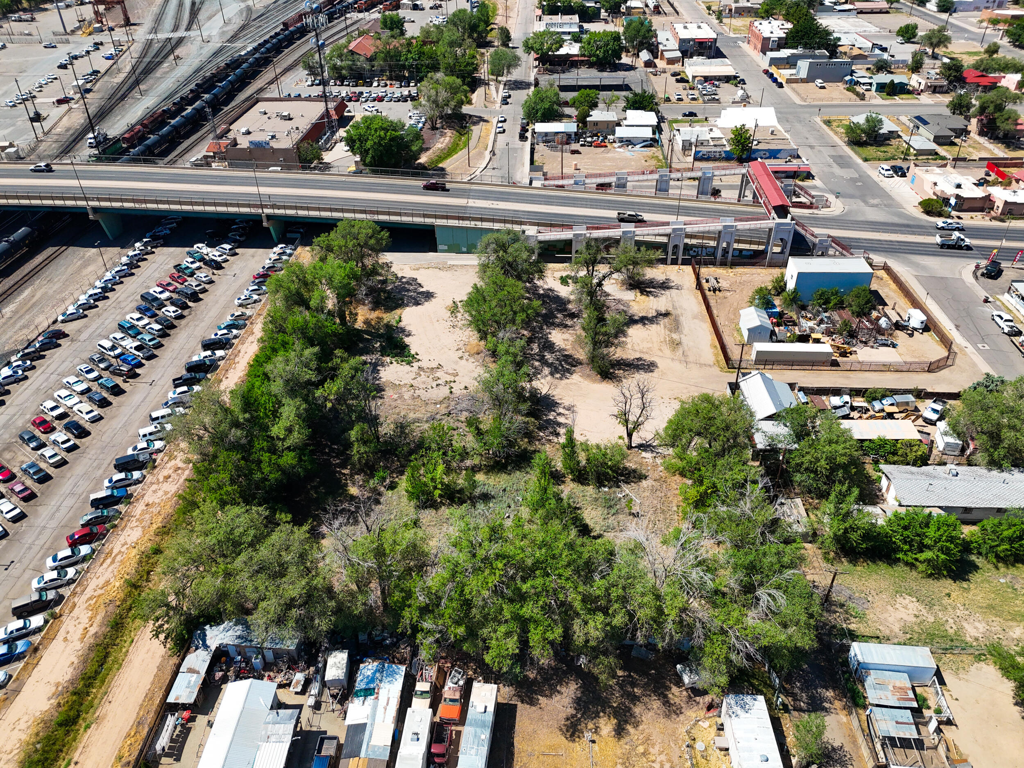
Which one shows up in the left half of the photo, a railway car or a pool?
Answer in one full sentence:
The feature located in the left half of the photo is a railway car.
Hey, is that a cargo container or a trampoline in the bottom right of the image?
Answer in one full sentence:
The one visible in the bottom right of the image is a cargo container.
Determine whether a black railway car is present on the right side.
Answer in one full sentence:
No, on the right side there is no black railway car.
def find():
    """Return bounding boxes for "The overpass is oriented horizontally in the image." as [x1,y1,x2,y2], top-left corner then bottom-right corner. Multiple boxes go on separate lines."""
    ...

[0,162,820,257]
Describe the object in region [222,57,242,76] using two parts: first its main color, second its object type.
black rail car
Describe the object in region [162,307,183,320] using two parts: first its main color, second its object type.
white vehicle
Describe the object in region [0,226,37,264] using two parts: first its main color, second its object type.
black rail car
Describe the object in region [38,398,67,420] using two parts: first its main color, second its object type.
white car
